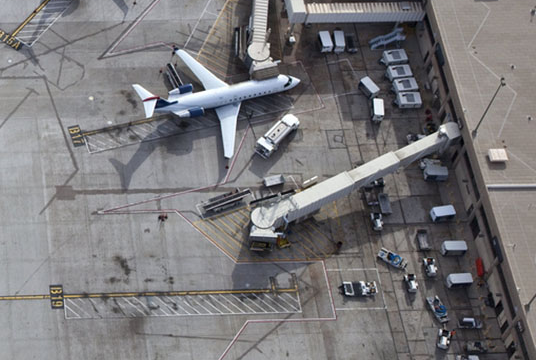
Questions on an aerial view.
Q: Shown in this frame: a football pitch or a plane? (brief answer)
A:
plane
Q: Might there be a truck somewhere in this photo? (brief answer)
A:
Yes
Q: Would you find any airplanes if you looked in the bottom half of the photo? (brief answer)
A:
No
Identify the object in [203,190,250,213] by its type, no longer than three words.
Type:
work vehicle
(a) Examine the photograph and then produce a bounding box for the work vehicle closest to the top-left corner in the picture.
[167,59,187,89]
